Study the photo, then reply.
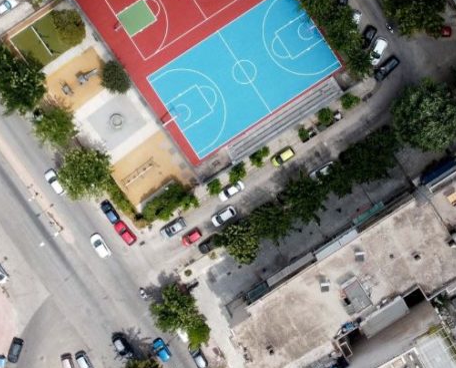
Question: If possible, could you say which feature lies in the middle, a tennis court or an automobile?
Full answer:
Looking in the middle, you will find an automobile.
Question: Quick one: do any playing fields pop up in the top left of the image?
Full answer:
Yes, there is a playing field in the top left of the image.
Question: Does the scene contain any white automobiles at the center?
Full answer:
Yes, a white automobile is visible at the center.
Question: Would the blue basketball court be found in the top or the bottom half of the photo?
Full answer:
Seen from above, the blue basketball court lies in the top half of the view.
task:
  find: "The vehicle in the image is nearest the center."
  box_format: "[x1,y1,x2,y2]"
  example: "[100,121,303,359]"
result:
[218,182,245,201]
